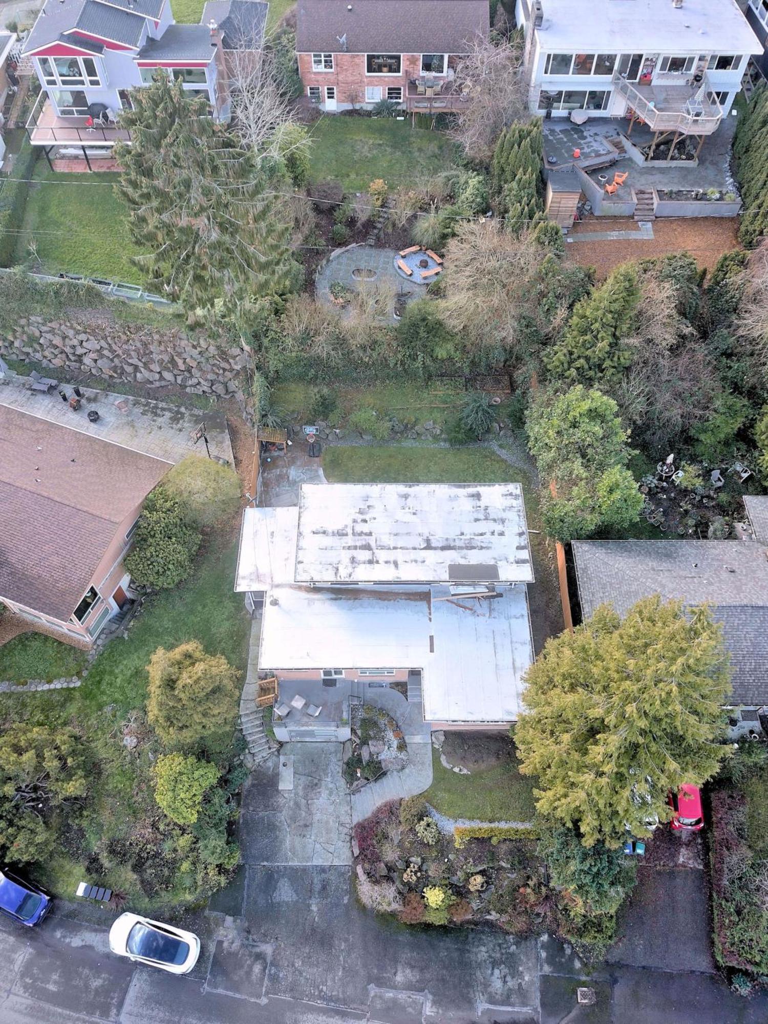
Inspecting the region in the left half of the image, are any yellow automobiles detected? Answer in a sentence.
No, I see no yellow automobile in the left half of the image.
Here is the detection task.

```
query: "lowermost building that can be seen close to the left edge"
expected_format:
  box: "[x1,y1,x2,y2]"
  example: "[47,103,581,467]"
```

[0,409,175,638]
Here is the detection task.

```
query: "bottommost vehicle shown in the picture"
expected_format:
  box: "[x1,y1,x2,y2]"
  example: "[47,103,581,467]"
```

[106,911,206,981]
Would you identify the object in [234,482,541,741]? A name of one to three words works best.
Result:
house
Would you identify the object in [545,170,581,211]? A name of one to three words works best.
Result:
shed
